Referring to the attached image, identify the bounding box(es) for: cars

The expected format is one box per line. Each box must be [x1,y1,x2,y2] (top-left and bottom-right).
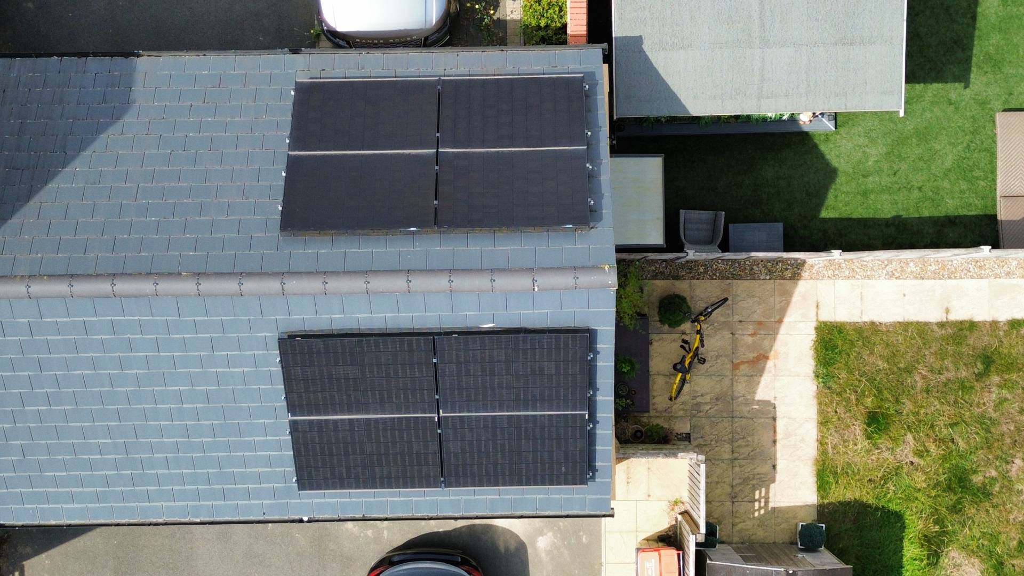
[318,0,459,50]
[371,549,490,576]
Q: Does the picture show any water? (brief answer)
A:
No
